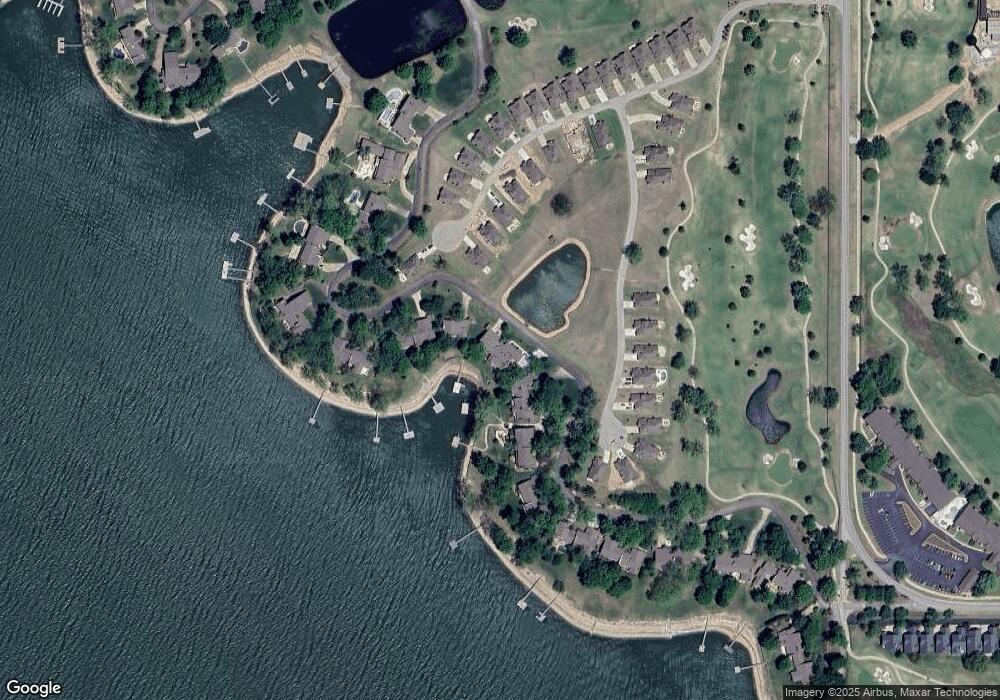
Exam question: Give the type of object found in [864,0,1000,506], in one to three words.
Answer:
golf course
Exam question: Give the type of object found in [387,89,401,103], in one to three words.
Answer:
swimming pool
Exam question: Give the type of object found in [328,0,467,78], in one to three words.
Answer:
pond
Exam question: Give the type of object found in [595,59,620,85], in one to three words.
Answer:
house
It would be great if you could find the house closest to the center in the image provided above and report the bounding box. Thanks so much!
[475,326,521,370]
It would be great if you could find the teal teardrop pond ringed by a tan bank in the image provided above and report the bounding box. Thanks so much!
[507,245,587,332]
